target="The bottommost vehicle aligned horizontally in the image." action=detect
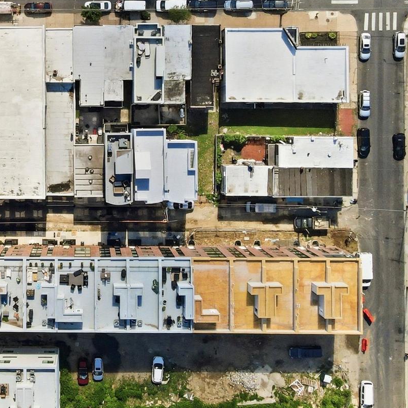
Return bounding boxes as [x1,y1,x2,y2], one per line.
[288,346,323,360]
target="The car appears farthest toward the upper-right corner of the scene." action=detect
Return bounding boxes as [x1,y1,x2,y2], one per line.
[392,32,406,59]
